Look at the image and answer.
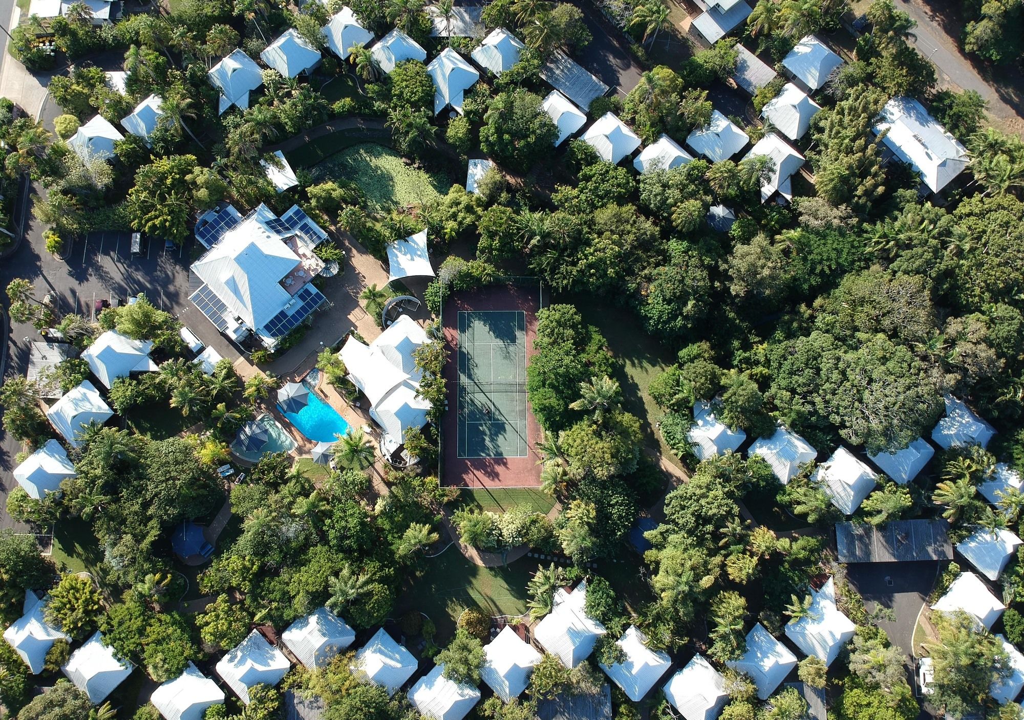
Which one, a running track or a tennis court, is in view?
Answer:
tennis court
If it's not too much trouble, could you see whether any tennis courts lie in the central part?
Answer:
Yes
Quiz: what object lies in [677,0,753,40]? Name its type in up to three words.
house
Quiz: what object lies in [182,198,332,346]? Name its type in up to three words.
building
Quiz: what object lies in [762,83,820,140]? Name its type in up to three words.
building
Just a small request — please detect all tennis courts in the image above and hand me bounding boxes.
[440,279,541,487]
